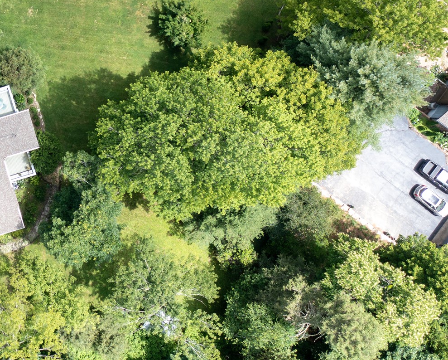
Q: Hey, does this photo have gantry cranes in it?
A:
No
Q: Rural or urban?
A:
rural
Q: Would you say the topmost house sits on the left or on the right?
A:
right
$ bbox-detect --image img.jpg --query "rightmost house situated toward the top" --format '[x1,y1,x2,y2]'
[418,87,448,134]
